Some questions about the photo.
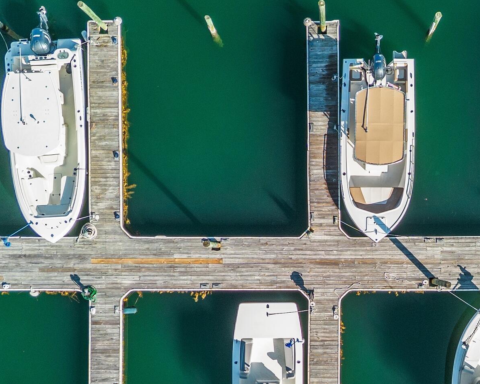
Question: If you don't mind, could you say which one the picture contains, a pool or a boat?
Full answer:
This aerial view contains a boat.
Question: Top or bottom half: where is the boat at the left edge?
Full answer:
The boat at the left edge sits in the top half of the picture.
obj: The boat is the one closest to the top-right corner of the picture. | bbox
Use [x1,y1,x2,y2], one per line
[339,32,415,243]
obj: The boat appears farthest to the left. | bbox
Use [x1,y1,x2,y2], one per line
[2,3,88,244]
